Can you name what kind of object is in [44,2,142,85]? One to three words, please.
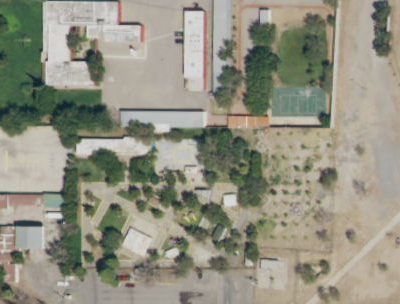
building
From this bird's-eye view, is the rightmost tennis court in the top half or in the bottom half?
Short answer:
top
